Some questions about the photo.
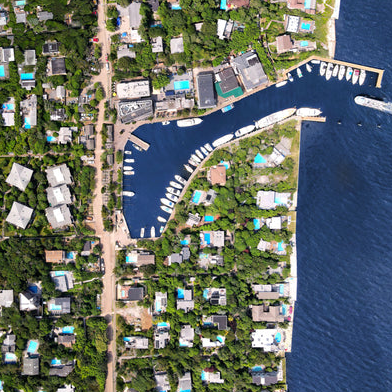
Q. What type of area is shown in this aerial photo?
residential area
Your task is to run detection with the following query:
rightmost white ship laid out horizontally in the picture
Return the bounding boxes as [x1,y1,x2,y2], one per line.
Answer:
[354,97,389,111]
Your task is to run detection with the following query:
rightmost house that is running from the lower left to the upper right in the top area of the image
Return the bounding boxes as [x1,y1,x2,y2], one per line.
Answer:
[253,136,294,168]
